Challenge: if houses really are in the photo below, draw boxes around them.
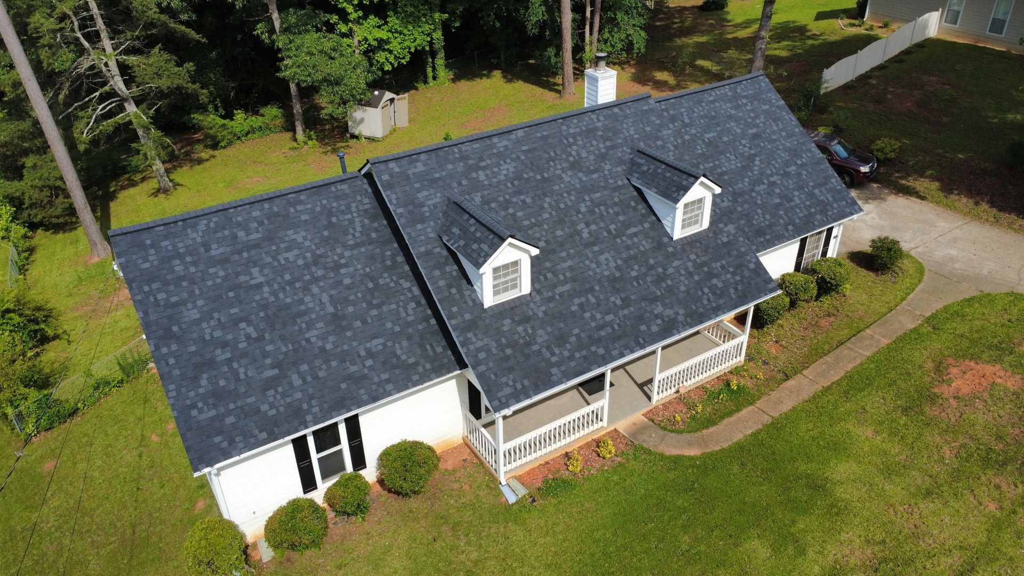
[867,0,1024,55]
[106,56,867,544]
